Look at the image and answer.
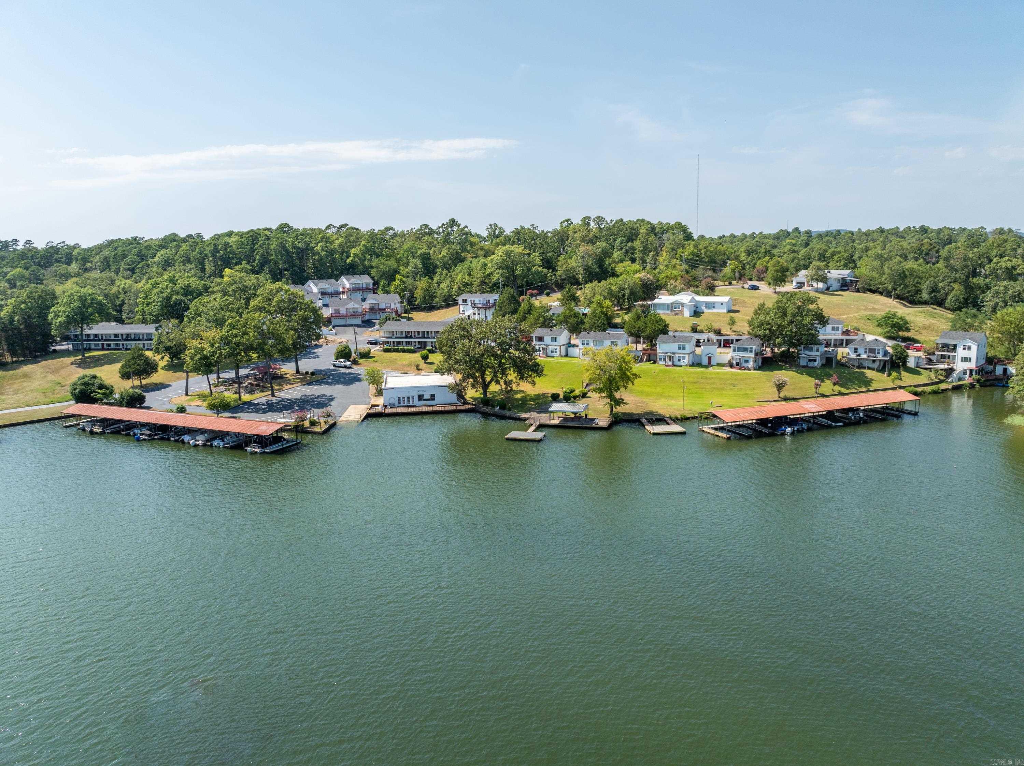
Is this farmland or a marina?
marina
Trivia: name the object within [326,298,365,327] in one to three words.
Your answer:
house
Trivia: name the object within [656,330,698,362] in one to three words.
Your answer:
house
